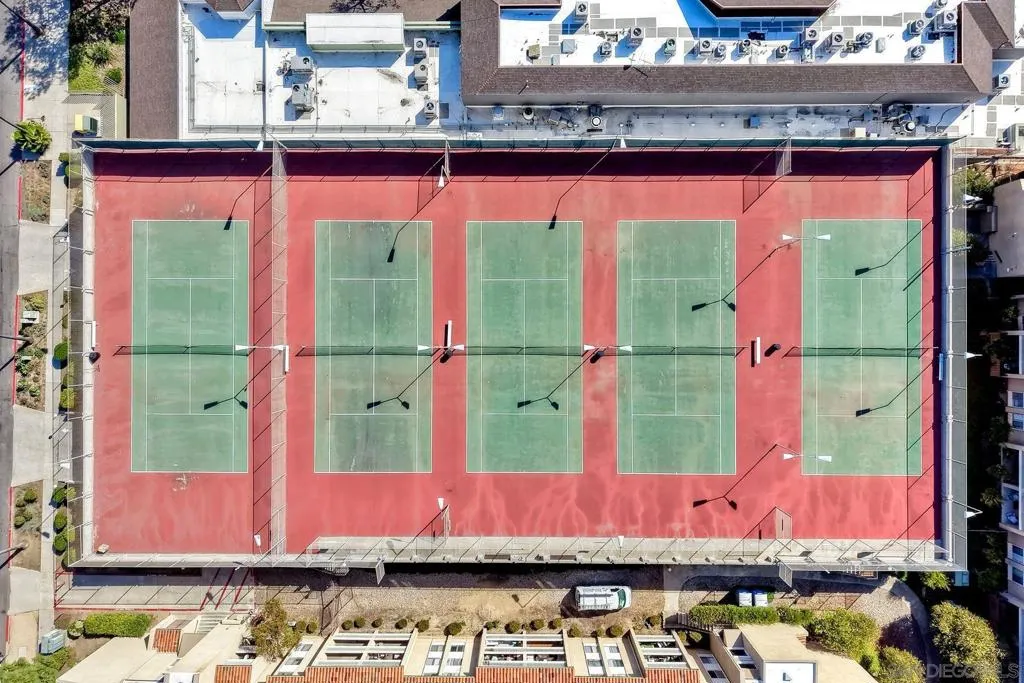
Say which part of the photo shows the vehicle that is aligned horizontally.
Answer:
bottom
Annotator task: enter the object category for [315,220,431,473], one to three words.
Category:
tennis court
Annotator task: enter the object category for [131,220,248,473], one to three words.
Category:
tennis court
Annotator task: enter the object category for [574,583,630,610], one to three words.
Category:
vehicle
